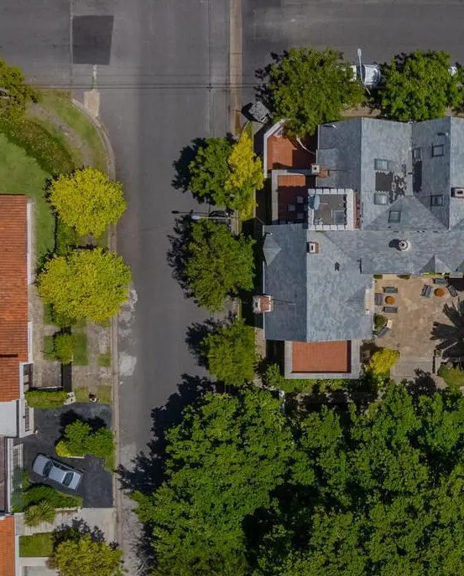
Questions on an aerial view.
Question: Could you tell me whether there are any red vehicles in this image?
No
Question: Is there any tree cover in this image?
Yes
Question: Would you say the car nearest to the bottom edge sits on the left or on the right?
left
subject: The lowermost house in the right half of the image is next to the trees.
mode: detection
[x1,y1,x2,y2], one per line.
[251,117,464,379]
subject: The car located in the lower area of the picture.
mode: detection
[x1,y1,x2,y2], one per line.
[30,452,85,492]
